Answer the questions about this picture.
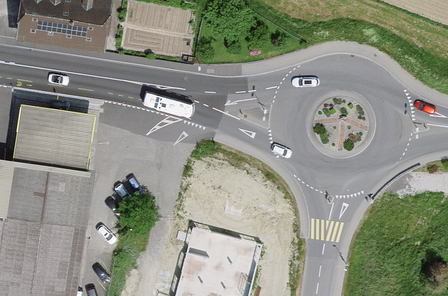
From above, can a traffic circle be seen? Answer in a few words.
Yes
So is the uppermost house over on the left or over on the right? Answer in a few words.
left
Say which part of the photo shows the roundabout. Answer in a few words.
right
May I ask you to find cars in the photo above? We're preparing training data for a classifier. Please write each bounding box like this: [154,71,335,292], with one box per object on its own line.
[294,76,320,88]
[87,286,98,296]
[128,174,144,193]
[50,74,70,85]
[94,262,110,282]
[98,224,116,242]
[273,144,292,157]
[114,180,131,199]
[104,194,120,213]
[414,101,436,114]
